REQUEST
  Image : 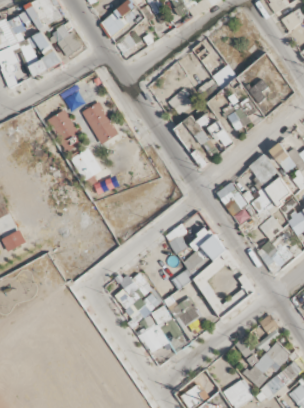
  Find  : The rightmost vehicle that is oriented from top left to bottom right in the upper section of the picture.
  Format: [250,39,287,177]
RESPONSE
[254,1,269,20]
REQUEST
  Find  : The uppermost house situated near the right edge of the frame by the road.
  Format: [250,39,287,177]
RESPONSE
[281,8,304,32]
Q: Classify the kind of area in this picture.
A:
residential area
